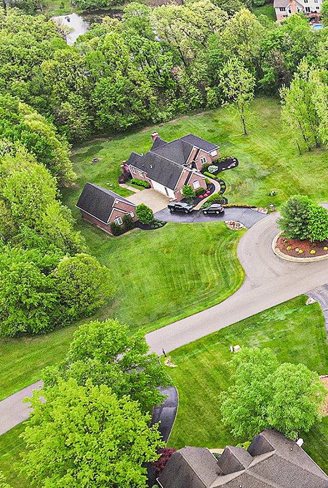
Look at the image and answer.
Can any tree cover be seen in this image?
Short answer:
Yes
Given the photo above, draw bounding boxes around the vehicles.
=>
[163,201,194,214]
[198,203,223,215]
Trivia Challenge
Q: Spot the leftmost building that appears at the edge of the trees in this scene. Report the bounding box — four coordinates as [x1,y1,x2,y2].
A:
[75,184,139,234]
